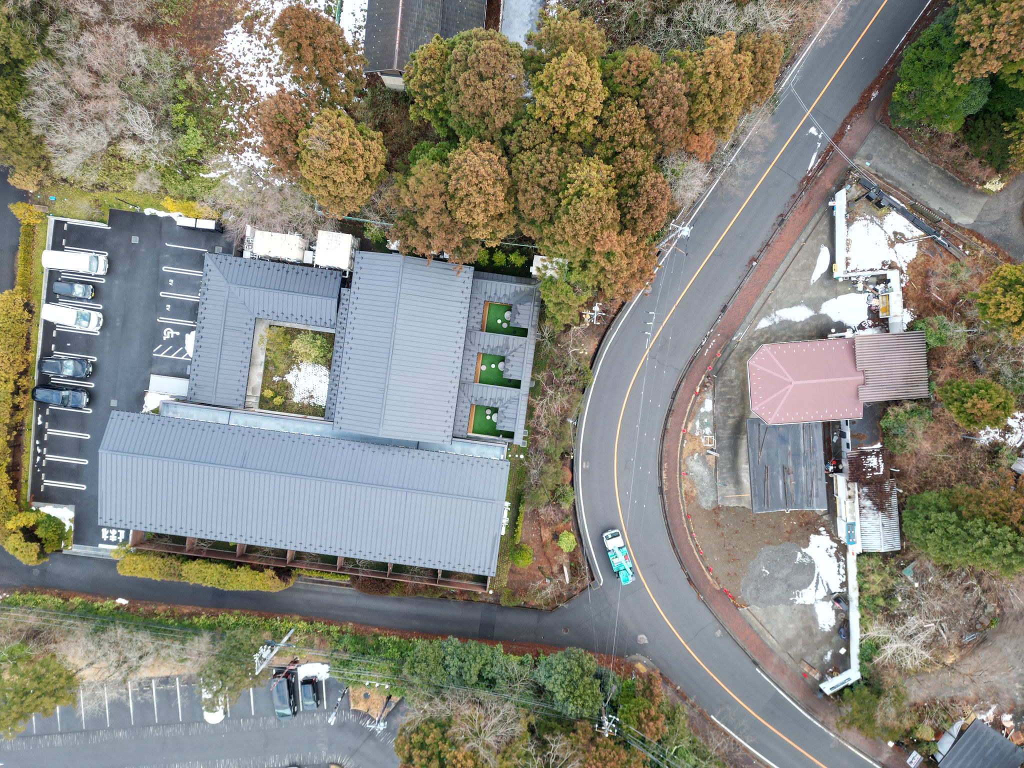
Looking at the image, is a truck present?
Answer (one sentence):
Yes, you can see a truck in this photo.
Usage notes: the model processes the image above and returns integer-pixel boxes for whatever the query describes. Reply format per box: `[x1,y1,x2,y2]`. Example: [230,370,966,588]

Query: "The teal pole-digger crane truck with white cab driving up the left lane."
[600,528,638,593]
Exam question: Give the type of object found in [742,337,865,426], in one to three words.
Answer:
building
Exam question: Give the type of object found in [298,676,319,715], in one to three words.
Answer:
car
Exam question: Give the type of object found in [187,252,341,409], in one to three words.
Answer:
building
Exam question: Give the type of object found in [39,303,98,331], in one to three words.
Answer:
vehicle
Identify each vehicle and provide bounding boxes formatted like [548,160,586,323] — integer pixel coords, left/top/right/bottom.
[34,357,91,381]
[206,706,229,723]
[39,303,98,331]
[37,250,103,277]
[298,676,319,715]
[600,528,638,593]
[48,279,91,299]
[29,385,89,411]
[272,668,298,721]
